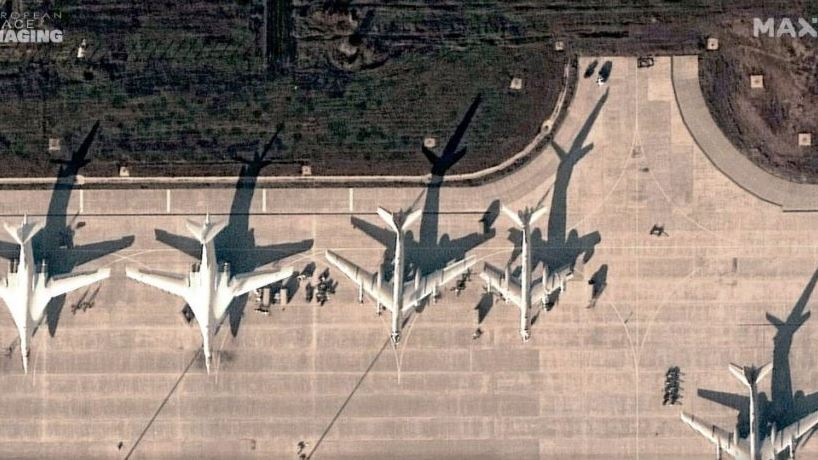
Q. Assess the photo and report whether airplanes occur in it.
Yes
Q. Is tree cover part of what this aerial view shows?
No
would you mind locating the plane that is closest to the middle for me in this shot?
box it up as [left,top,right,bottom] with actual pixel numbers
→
[328,201,471,350]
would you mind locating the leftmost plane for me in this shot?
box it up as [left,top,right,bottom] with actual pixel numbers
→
[0,214,107,373]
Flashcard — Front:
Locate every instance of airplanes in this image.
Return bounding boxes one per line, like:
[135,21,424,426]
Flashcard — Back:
[682,364,818,460]
[128,213,288,375]
[328,201,471,350]
[478,201,571,346]
[0,214,107,373]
